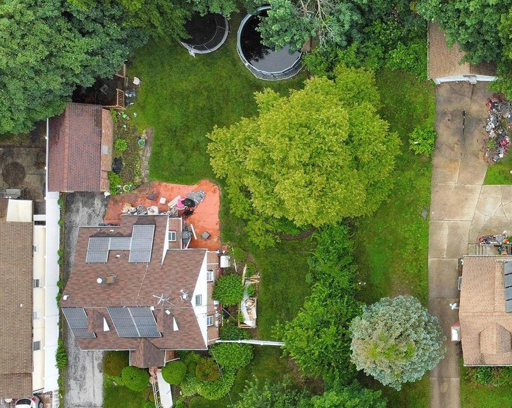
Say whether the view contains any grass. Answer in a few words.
Yes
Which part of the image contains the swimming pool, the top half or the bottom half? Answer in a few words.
top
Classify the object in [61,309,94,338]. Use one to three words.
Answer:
solar panel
